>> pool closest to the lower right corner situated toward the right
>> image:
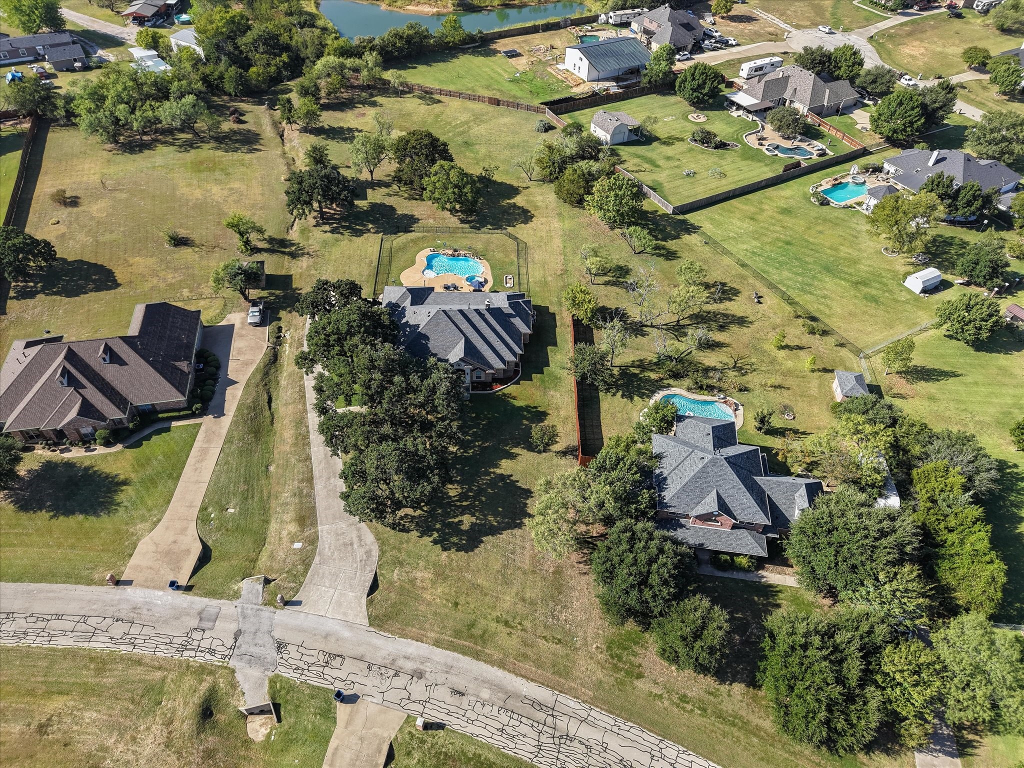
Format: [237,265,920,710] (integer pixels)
[640,389,744,436]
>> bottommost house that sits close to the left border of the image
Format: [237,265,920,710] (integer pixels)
[0,302,204,443]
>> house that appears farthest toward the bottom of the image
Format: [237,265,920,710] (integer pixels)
[650,414,823,570]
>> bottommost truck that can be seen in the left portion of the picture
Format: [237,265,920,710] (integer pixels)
[245,297,267,329]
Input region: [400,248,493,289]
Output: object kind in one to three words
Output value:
swimming pool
